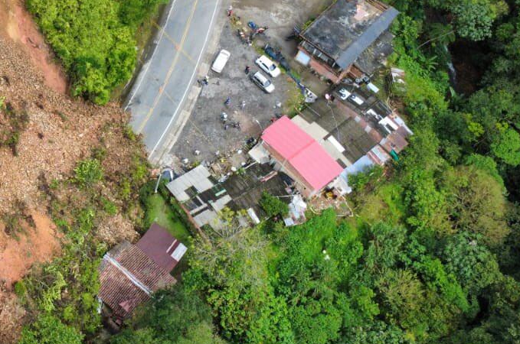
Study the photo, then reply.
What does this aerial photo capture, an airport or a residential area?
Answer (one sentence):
It's a residential area.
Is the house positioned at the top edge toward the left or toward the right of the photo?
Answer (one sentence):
You can find the house positioned at the top edge on the right side of the picture.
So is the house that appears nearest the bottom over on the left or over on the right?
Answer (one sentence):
The house that appears nearest the bottom is on the left side of the image.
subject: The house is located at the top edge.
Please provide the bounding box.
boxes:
[296,0,400,87]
